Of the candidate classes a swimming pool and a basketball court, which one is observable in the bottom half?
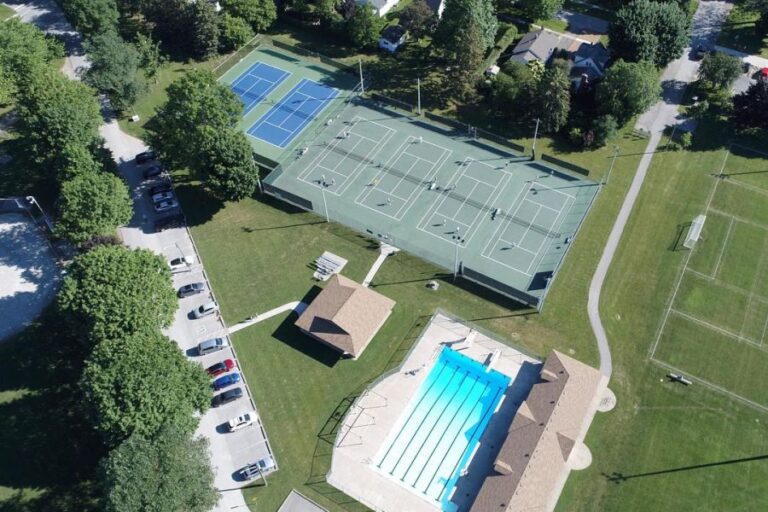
swimming pool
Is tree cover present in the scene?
Yes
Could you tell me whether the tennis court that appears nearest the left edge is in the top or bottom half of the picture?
top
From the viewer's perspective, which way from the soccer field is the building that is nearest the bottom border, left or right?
left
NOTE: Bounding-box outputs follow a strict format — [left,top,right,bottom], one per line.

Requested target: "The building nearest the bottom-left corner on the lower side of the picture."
[293,274,397,364]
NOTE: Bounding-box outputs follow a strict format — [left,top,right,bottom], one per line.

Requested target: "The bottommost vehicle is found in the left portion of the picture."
[238,456,276,481]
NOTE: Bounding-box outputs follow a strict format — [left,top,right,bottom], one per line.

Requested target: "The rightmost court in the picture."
[480,180,577,277]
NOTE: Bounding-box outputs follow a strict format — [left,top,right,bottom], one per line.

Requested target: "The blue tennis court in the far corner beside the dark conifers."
[213,61,292,126]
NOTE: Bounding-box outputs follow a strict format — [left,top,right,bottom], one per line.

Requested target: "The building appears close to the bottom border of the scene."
[472,349,602,512]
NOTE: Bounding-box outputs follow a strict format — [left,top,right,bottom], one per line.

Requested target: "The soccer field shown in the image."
[651,150,768,415]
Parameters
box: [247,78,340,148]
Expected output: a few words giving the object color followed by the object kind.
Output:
blue tennis court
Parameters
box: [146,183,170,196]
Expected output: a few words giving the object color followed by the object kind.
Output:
black vehicle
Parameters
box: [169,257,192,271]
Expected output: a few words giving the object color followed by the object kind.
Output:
white car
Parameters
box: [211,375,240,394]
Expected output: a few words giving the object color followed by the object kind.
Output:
blue car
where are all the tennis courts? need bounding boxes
[355,136,452,220]
[213,61,292,126]
[298,116,395,196]
[480,180,577,277]
[247,78,340,148]
[416,157,512,247]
